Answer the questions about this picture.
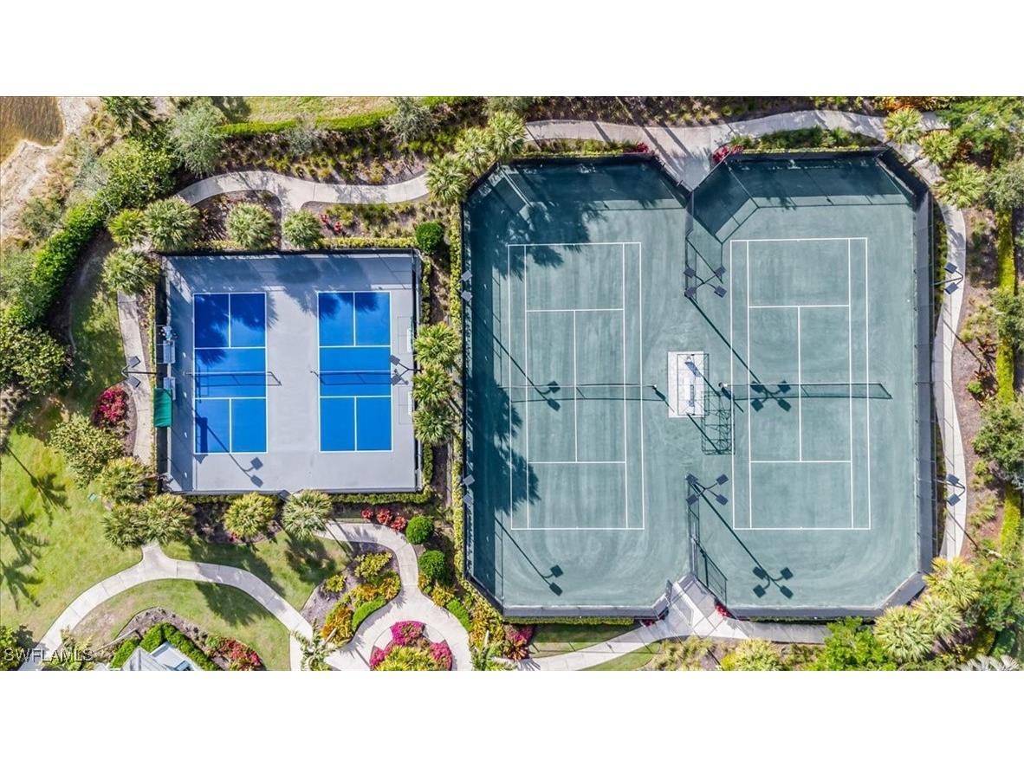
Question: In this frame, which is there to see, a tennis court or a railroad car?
tennis court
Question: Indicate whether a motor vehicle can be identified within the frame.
No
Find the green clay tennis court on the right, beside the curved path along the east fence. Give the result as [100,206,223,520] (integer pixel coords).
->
[686,157,919,608]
